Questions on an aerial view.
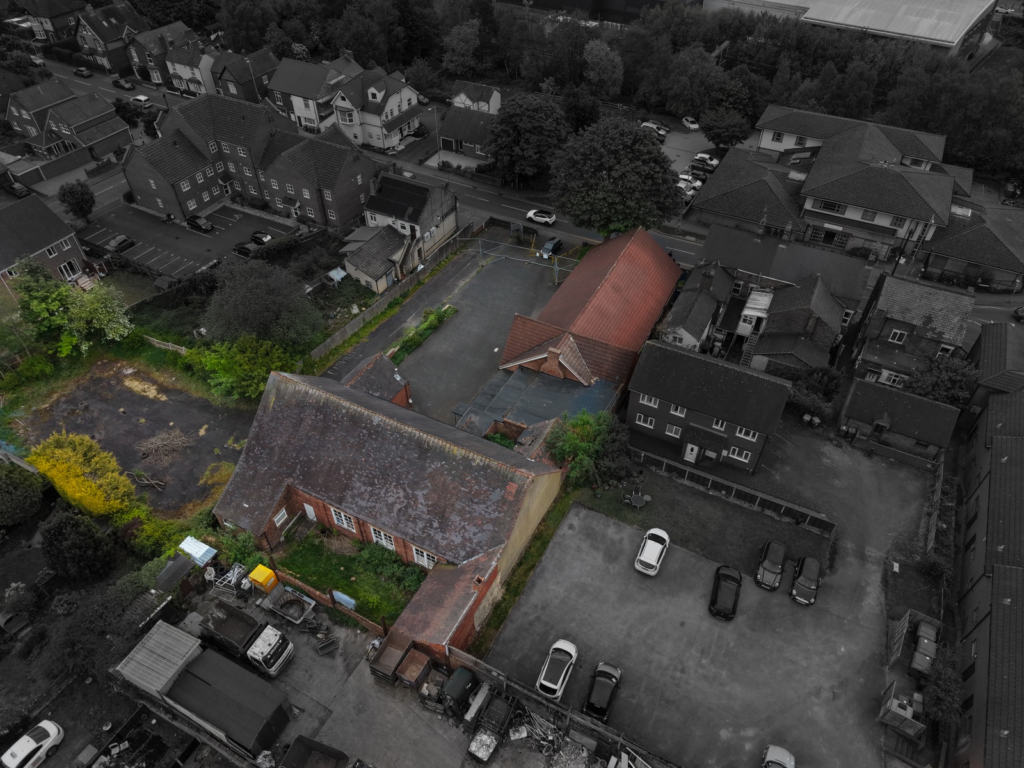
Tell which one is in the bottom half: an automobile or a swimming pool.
automobile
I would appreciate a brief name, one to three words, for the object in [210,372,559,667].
building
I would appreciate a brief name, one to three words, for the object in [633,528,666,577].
car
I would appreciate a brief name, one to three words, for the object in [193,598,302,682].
truck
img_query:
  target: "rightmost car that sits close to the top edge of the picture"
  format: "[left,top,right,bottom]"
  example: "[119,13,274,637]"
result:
[991,2,1016,17]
